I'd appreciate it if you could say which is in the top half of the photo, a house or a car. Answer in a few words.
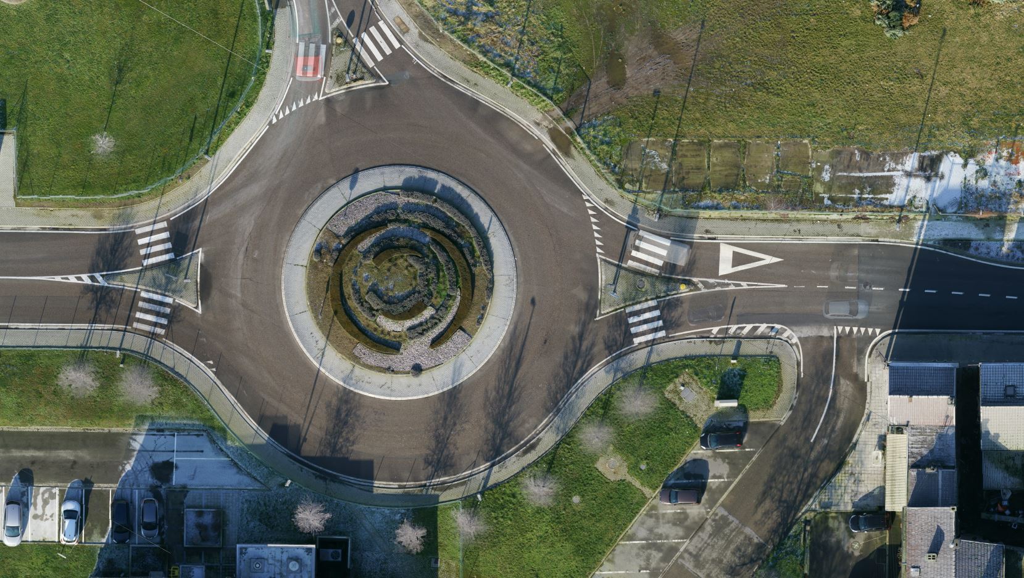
car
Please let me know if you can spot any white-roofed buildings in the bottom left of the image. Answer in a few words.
No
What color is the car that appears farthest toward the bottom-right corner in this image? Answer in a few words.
black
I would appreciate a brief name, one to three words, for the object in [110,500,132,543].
car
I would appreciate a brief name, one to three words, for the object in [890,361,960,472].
house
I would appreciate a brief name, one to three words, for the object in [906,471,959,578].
house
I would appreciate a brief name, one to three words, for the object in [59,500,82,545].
car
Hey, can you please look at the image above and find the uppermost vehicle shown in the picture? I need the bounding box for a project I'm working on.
[298,50,320,80]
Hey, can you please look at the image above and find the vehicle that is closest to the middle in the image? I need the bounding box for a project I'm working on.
[657,241,690,266]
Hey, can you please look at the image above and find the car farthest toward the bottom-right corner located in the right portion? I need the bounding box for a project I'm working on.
[849,513,891,534]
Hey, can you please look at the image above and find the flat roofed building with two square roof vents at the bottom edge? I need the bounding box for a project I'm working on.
[235,545,316,578]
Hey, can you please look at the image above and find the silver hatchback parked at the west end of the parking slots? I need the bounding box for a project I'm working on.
[0,500,23,546]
